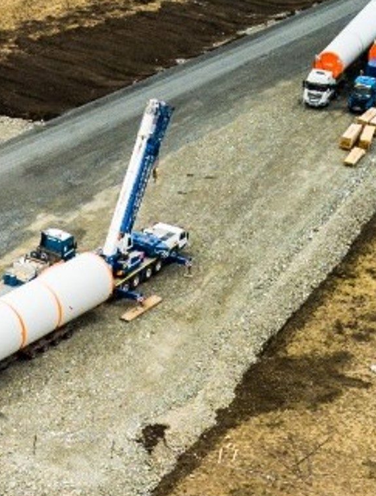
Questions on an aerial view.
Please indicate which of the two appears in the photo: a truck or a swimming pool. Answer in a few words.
truck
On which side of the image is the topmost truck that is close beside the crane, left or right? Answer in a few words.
left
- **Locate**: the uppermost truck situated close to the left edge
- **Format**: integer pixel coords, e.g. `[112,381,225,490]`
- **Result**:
[0,224,83,287]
